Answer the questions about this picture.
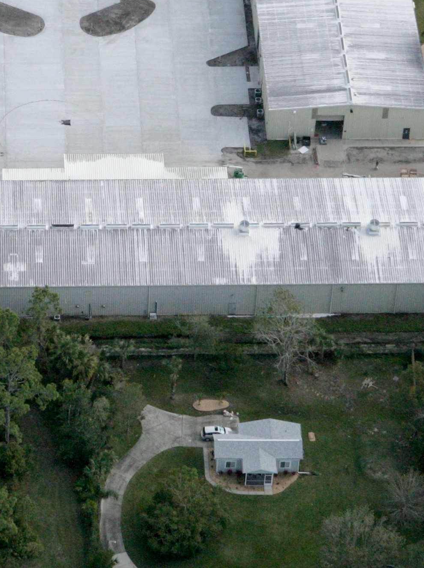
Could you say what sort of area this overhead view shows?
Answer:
industrial area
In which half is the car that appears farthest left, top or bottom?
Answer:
bottom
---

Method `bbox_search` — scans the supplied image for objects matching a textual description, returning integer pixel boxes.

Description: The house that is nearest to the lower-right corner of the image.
[213,417,312,486]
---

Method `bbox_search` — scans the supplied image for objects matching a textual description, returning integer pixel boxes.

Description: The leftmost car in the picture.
[199,423,236,443]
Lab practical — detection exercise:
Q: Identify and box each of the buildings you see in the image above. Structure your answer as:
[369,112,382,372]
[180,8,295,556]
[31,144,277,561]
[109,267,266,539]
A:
[251,0,424,140]
[0,176,424,318]
[213,417,312,486]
